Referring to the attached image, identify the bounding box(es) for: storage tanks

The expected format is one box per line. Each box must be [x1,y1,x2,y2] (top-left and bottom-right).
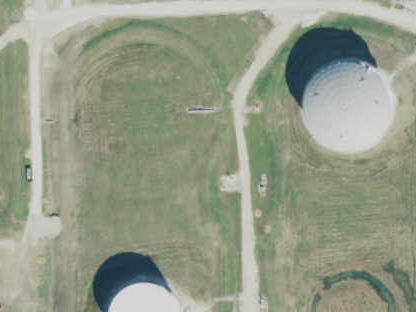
[304,56,395,150]
[108,277,182,312]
